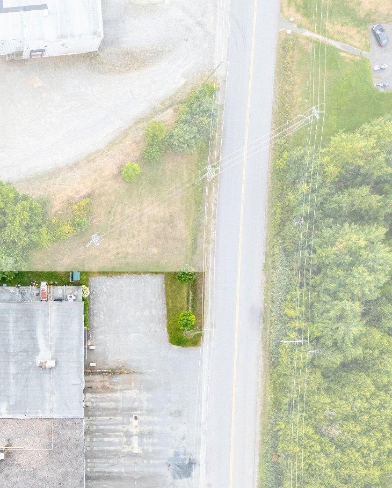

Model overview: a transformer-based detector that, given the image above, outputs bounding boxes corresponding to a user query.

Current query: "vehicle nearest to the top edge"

[370,24,388,47]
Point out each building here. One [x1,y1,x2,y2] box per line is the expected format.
[0,300,86,488]
[0,0,104,55]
